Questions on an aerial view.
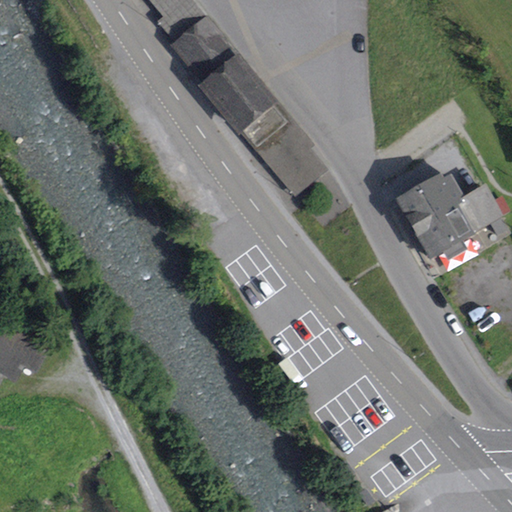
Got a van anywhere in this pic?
Yes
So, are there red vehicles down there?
Yes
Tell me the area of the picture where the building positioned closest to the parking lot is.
top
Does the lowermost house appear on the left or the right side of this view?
left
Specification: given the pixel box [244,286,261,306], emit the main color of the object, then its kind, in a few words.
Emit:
gray car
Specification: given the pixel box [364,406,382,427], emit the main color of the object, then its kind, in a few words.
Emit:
red car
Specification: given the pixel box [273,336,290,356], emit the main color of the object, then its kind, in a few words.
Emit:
white car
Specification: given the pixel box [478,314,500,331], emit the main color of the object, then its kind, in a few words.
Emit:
white car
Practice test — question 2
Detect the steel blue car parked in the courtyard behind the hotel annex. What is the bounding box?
[459,166,475,187]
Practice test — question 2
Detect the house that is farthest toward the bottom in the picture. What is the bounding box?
[0,332,45,384]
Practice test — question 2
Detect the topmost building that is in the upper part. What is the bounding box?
[151,0,327,196]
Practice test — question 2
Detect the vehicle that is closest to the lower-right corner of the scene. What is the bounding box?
[394,456,412,477]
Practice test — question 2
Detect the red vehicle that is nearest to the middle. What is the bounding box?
[294,320,311,340]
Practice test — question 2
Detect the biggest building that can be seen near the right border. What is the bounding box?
[398,173,505,259]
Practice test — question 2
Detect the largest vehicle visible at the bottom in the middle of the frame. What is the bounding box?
[278,355,306,390]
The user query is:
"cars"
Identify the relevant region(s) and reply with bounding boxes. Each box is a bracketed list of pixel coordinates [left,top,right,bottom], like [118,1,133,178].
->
[354,414,370,434]
[258,279,276,300]
[394,456,412,477]
[356,34,366,52]
[376,400,393,420]
[447,314,464,334]
[294,320,311,340]
[244,286,261,306]
[344,326,362,346]
[478,314,500,331]
[364,406,382,427]
[429,285,446,308]
[459,166,475,187]
[273,336,290,356]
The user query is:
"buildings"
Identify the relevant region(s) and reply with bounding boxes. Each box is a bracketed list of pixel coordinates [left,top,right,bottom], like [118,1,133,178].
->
[151,0,327,196]
[0,332,45,384]
[398,173,505,259]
